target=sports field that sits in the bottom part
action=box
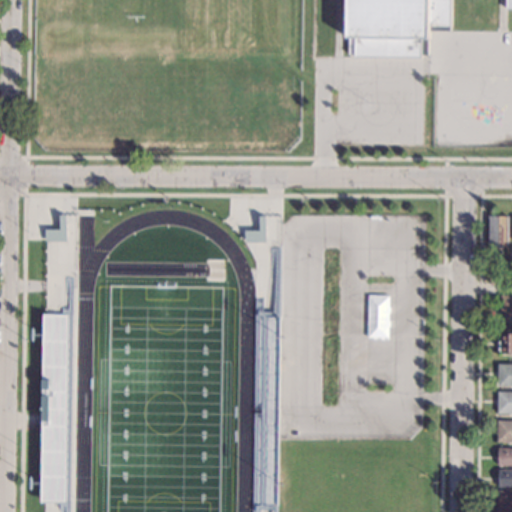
[92,225,242,512]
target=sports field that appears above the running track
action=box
[37,0,302,150]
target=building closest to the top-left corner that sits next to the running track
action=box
[45,215,68,241]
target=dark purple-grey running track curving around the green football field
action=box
[77,210,256,512]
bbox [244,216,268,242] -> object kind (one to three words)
building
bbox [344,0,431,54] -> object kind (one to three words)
building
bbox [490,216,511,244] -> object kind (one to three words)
house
